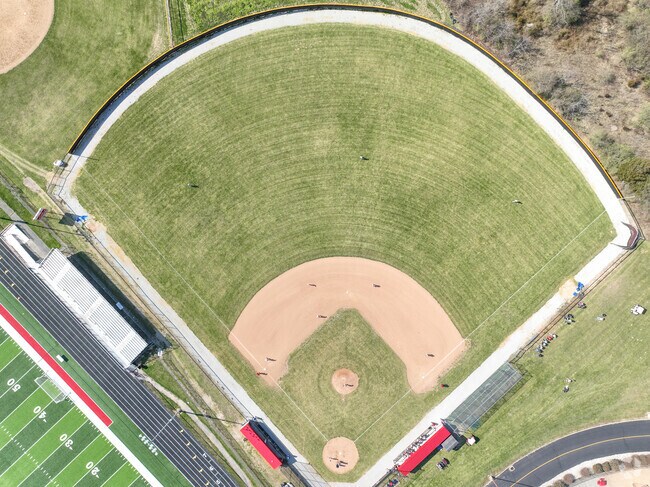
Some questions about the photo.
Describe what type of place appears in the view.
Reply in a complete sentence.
This looks like a sports ground.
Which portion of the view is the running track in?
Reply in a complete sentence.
The running track is located in the bottom left region of the scene.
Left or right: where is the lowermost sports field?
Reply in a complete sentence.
The lowermost sports field sits on the left side.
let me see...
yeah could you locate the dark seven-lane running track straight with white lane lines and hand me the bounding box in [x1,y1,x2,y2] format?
[0,229,243,487]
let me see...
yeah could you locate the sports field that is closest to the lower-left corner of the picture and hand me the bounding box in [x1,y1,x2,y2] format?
[0,281,194,487]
